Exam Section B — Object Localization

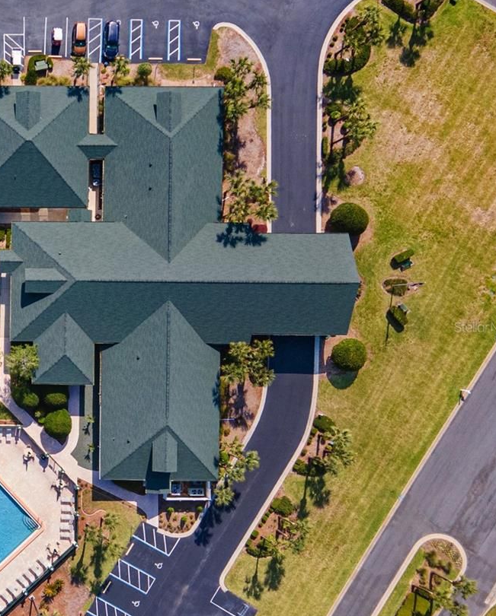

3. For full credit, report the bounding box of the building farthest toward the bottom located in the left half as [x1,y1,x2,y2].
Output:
[0,86,360,492]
